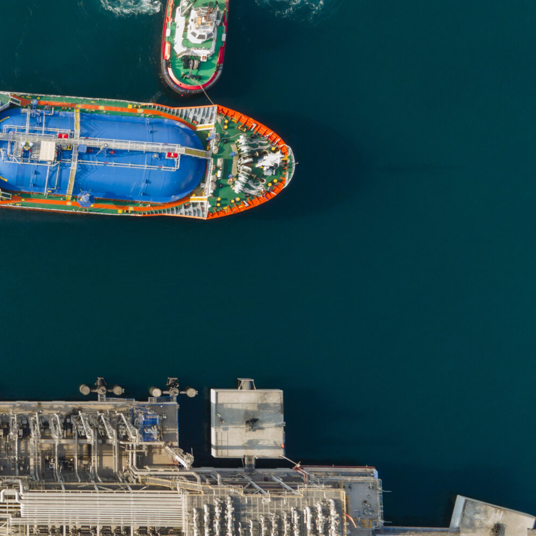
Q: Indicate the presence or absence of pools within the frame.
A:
No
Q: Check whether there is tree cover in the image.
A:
No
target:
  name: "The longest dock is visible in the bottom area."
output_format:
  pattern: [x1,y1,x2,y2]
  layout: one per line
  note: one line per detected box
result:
[179,465,379,496]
